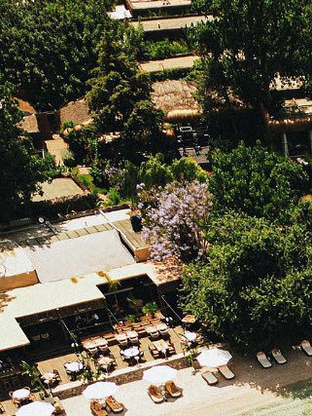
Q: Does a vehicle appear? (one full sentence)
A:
No, no vehicle is visible in the view.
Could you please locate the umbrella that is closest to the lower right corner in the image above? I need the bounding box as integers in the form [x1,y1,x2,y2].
[198,352,232,381]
